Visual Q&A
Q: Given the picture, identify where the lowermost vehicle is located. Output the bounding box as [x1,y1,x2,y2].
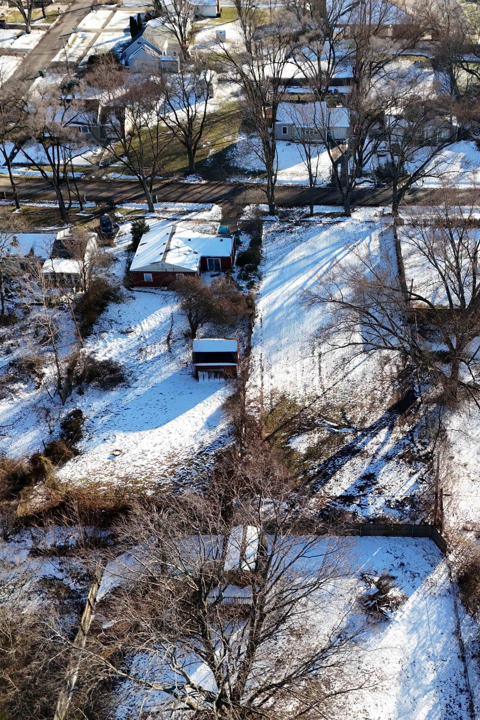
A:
[96,217,116,239]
